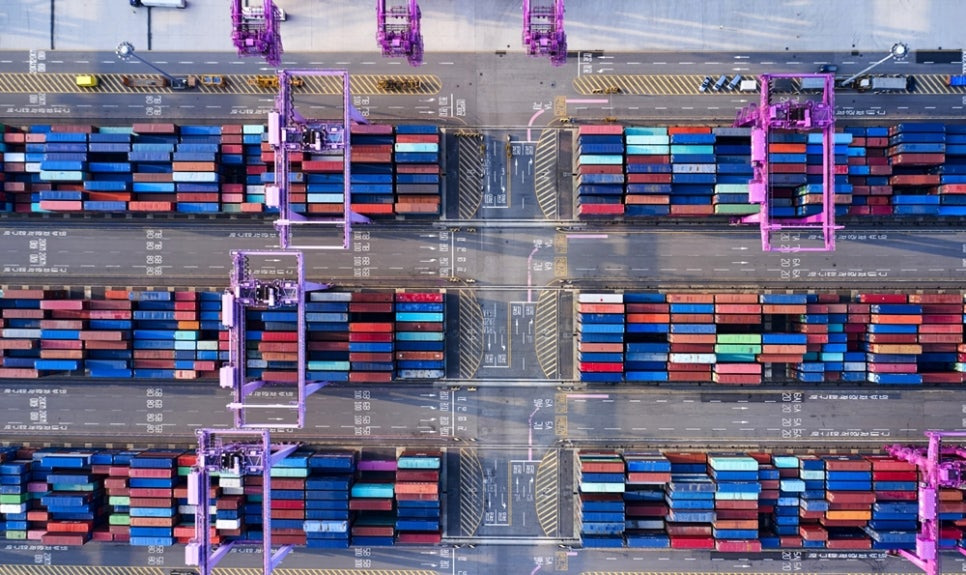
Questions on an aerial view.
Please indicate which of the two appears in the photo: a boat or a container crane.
container crane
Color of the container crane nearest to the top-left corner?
purple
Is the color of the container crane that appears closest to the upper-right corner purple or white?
purple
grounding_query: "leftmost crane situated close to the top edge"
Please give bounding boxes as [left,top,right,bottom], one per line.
[232,0,286,71]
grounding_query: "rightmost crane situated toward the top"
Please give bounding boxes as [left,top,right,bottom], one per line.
[729,73,841,250]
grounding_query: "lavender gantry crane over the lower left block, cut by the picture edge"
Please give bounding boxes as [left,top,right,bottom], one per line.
[185,427,310,575]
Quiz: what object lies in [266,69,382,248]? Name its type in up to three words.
container crane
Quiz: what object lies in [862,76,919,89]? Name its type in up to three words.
vehicle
